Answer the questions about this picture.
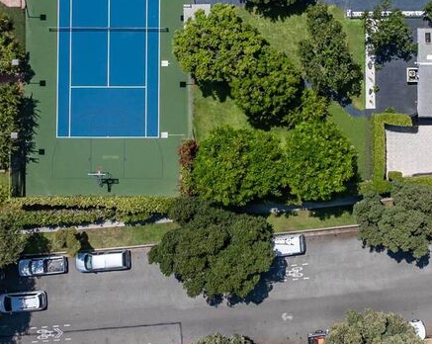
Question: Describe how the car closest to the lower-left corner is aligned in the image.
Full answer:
Seen from above, the car closest to the lower-left corner lies horizontally.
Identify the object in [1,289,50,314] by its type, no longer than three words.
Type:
car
